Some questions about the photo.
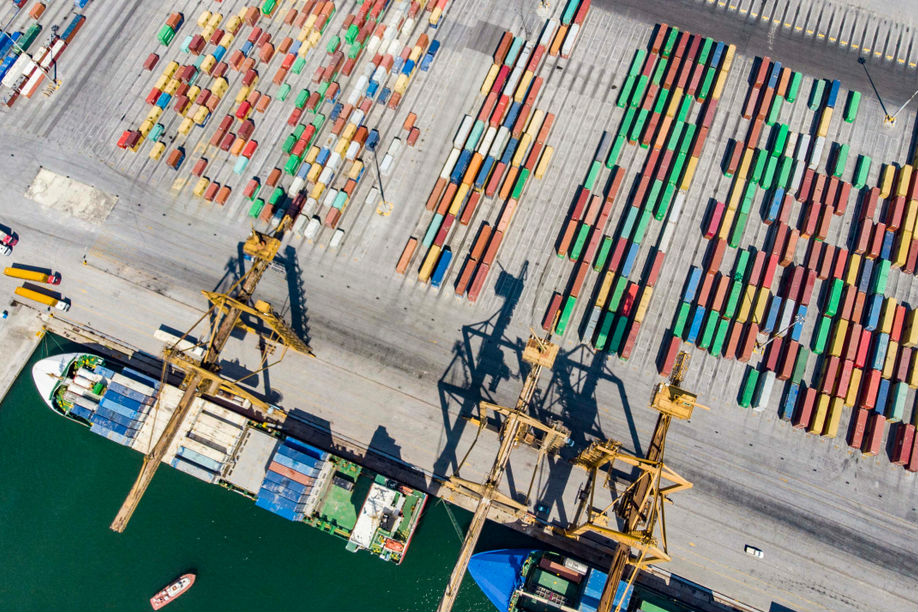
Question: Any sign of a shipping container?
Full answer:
Yes, this view includes a shipping container.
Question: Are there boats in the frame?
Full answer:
Yes, there's a boat down there.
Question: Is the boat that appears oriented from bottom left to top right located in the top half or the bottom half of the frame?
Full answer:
The bottom half of the photo is where the boat that appears oriented from bottom left to top right is.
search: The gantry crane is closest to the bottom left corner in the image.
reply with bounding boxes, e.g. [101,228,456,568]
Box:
[102,205,310,536]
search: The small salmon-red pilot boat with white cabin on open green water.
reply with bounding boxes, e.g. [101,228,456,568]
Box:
[149,574,195,610]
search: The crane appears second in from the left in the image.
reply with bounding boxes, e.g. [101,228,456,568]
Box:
[432,311,563,612]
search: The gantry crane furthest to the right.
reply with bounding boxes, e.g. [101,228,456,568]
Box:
[550,360,712,612]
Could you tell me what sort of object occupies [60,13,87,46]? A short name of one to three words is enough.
shipping container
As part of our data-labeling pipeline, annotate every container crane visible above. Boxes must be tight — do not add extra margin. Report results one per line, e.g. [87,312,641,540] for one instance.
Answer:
[432,311,563,612]
[102,205,310,536]
[550,360,712,612]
